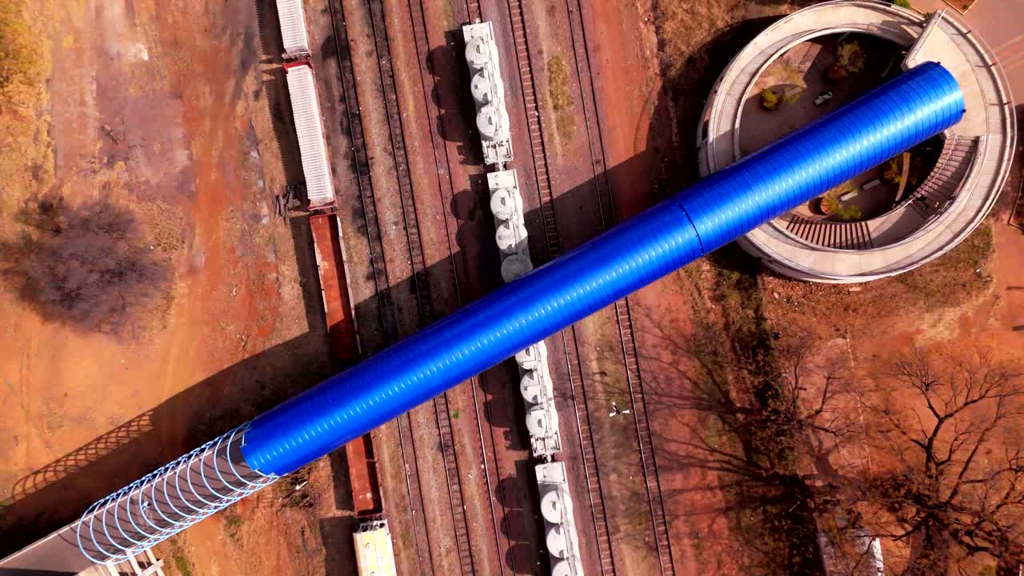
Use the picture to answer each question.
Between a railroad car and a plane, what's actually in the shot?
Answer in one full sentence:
It is a railroad car that can be seen here.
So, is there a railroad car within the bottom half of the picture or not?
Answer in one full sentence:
Yes, a railroad car shows up within the bottom half of the picture.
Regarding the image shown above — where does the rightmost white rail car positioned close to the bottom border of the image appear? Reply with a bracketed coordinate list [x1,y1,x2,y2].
[536,454,584,576]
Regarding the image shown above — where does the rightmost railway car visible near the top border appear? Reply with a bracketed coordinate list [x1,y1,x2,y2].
[464,19,514,167]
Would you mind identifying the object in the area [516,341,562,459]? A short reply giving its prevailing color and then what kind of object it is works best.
white rail car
